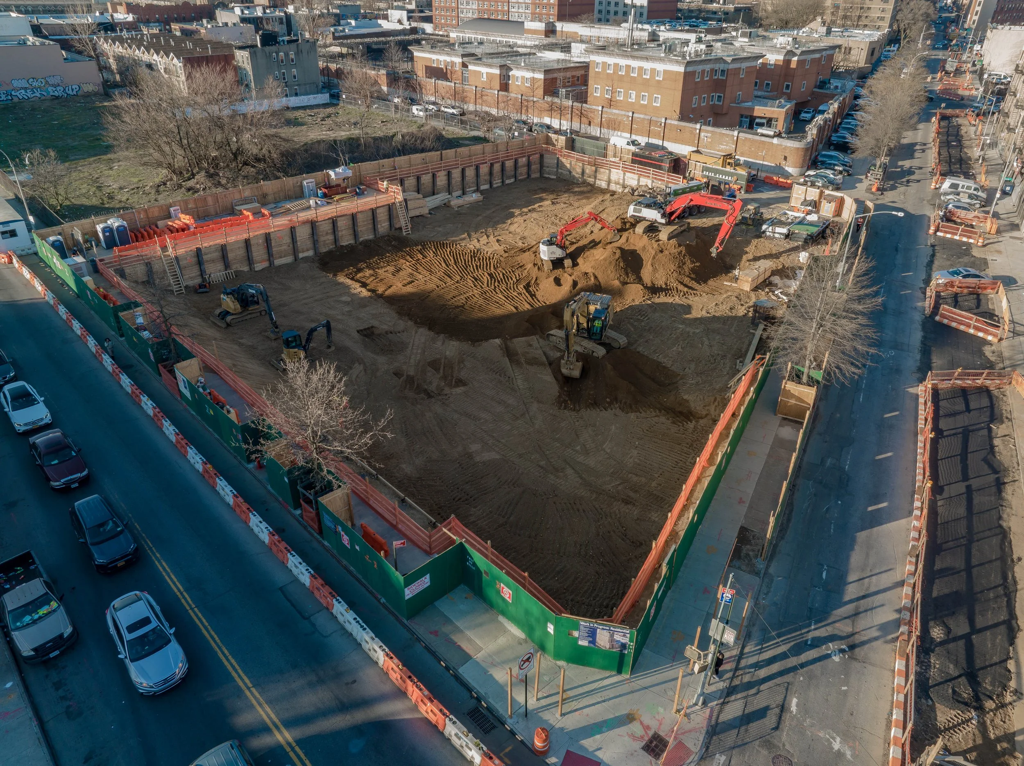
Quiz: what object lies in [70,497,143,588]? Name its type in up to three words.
car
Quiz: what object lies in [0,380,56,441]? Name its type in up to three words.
car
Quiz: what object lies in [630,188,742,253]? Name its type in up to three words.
work vehicle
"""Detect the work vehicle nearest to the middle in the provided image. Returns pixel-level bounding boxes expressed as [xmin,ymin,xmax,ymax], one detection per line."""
[545,293,629,363]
